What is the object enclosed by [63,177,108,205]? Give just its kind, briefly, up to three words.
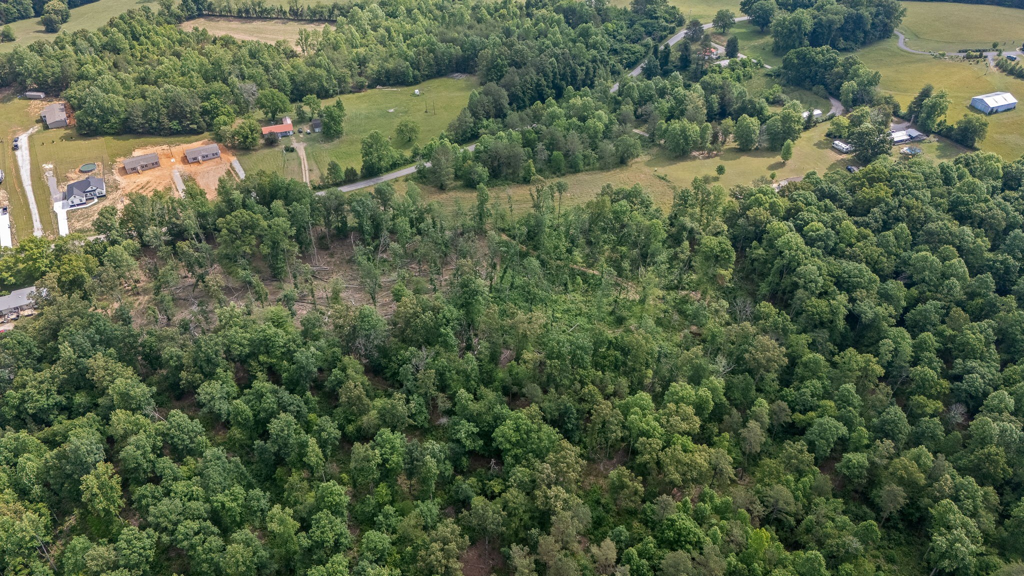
house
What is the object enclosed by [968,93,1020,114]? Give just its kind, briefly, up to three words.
barn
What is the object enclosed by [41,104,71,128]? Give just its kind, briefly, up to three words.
house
